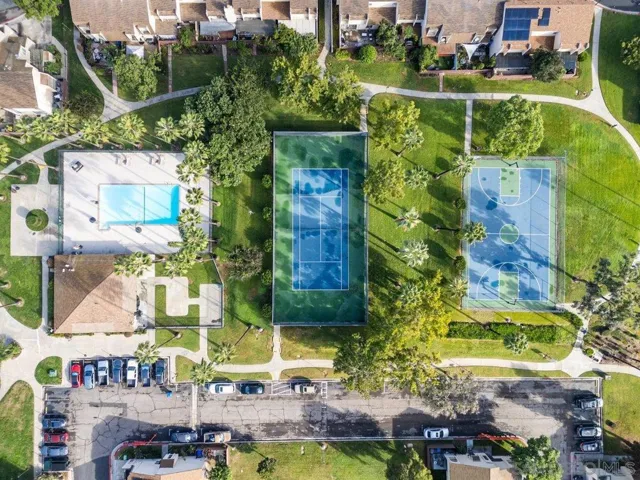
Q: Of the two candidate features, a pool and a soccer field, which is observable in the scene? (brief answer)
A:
pool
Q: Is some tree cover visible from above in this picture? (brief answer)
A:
Yes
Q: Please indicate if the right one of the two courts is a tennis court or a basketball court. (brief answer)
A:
basketball court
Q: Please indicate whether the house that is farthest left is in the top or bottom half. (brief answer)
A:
top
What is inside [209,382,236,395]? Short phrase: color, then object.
white vehicle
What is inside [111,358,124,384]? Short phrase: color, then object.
blue vehicle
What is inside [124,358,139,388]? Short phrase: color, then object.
white vehicle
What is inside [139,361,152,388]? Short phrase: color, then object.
blue vehicle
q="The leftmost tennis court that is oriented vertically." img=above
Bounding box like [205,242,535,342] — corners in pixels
[274,134,366,323]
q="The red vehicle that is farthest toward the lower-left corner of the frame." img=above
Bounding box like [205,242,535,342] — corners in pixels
[44,431,71,444]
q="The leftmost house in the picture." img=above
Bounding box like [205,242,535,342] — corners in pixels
[0,24,65,122]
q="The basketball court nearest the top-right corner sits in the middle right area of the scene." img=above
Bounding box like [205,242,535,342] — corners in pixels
[461,159,558,309]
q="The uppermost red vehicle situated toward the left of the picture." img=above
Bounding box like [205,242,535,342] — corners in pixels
[69,362,83,388]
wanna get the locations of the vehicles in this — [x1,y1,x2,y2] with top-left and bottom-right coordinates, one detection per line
[139,361,152,388]
[124,358,139,388]
[577,439,602,454]
[44,431,71,444]
[574,397,603,411]
[422,426,449,439]
[172,429,199,442]
[96,358,111,387]
[43,457,71,471]
[239,382,265,395]
[111,358,124,384]
[153,359,166,386]
[575,425,603,439]
[293,382,318,395]
[69,362,83,388]
[82,362,97,390]
[204,429,232,443]
[42,416,69,430]
[209,382,236,395]
[41,444,69,458]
